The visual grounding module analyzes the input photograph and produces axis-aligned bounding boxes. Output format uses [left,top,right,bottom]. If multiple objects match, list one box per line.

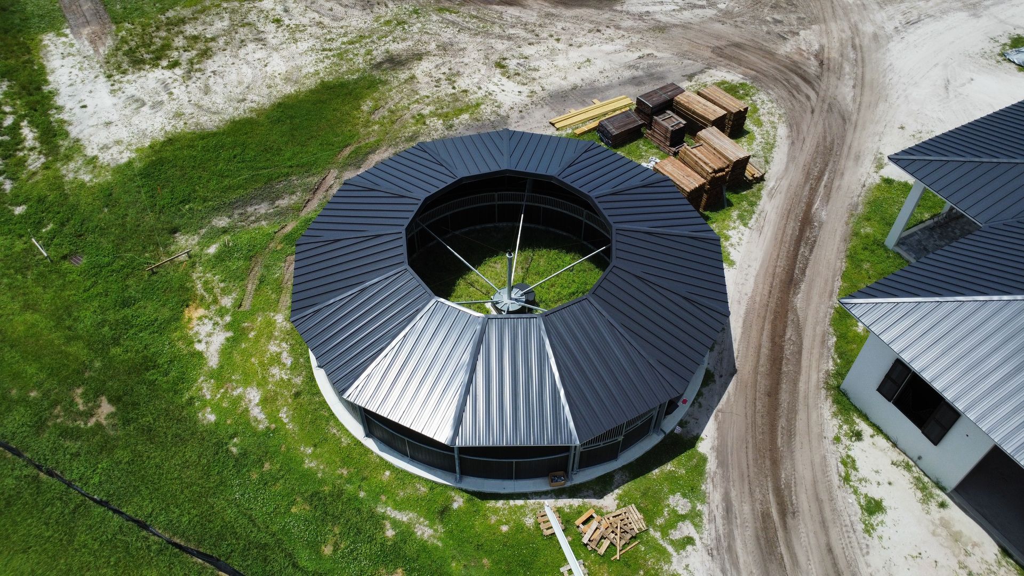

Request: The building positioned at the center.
[289,127,731,494]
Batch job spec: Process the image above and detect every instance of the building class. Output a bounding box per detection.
[289,127,731,494]
[837,96,1024,574]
